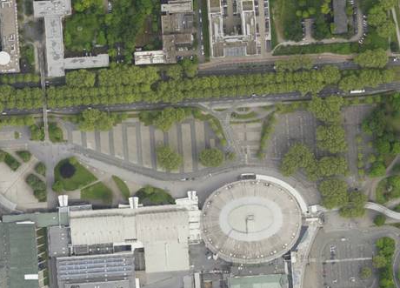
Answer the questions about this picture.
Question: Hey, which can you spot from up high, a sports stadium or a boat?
sports stadium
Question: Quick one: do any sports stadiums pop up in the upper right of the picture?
No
